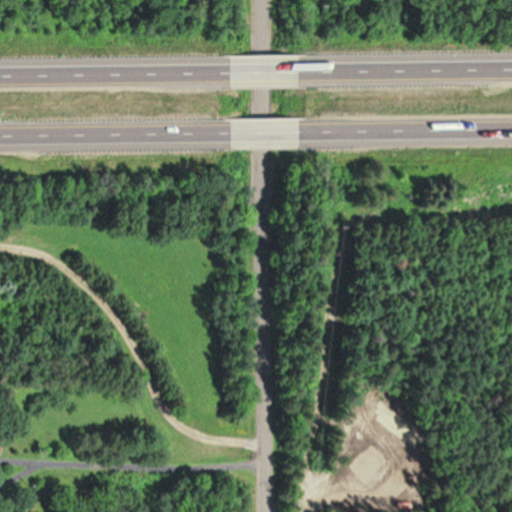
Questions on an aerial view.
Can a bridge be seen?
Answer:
Yes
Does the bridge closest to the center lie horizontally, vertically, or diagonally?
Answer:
horizontally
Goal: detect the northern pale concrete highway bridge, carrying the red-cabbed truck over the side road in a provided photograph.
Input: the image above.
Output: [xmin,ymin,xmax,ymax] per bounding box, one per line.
[225,54,304,90]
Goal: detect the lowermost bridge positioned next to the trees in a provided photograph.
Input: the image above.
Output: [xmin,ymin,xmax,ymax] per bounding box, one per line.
[225,118,304,150]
